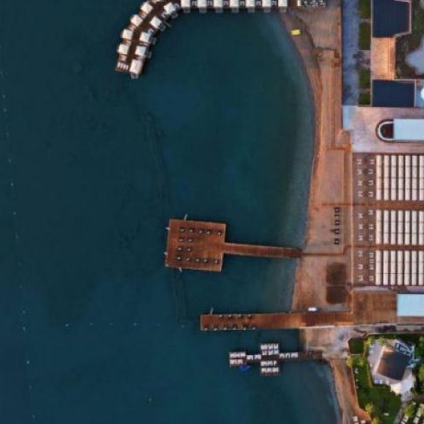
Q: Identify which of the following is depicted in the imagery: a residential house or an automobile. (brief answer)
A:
residential house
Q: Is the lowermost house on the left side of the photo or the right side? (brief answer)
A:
right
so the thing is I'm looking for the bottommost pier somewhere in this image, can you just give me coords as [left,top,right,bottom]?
[229,343,322,375]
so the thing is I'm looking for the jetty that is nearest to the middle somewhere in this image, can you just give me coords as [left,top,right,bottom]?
[165,219,302,272]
